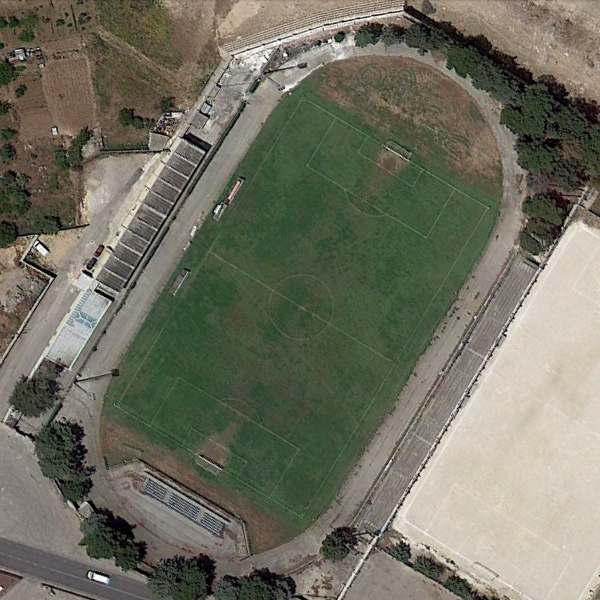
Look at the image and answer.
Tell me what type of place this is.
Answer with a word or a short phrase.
sports ground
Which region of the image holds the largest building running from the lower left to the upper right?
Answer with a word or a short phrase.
left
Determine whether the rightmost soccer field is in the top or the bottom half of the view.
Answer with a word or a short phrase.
bottom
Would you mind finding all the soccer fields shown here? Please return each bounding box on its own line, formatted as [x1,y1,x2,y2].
[385,222,600,600]
[101,53,503,556]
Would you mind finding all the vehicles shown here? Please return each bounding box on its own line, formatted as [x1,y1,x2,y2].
[86,256,97,271]
[89,571,108,584]
[32,240,50,257]
[93,243,104,258]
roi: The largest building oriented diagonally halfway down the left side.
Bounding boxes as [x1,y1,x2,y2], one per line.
[44,287,112,370]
